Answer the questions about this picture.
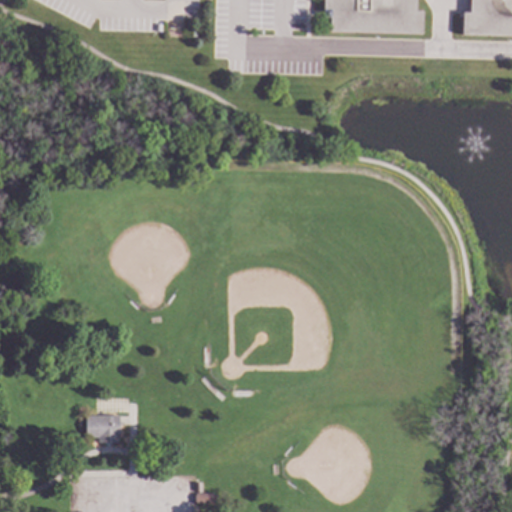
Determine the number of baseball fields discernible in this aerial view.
3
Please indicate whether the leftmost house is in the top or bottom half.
bottom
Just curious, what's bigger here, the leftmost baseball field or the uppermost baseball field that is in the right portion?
the uppermost baseball field that is in the right portion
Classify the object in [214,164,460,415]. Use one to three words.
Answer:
baseball field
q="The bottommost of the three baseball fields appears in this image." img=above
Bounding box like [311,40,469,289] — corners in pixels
[286,424,372,505]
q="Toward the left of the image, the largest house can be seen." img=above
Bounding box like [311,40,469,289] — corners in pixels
[86,415,119,444]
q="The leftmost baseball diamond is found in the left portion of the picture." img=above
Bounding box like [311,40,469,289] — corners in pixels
[111,222,190,308]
